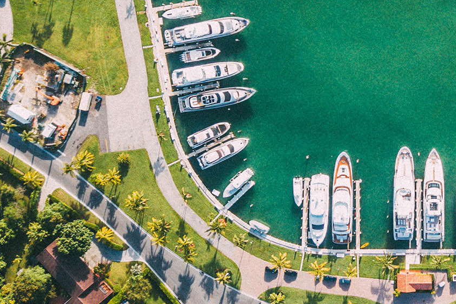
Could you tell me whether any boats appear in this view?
Yes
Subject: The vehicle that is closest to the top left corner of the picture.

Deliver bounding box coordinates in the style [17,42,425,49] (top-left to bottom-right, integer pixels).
[37,88,62,106]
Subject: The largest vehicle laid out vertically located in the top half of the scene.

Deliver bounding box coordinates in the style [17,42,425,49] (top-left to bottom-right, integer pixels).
[80,90,92,113]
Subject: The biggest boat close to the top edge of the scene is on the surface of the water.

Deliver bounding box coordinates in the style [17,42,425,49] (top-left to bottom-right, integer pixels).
[163,13,249,46]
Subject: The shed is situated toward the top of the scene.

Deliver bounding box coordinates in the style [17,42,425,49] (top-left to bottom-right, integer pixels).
[7,100,38,125]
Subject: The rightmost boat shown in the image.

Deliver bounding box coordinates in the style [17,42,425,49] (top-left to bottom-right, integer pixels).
[420,149,444,241]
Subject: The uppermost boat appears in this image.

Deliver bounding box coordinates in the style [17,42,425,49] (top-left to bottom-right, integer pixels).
[163,5,201,19]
